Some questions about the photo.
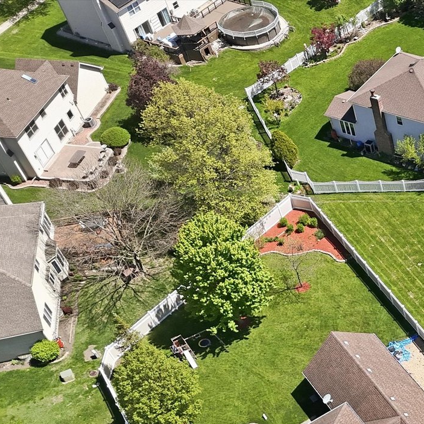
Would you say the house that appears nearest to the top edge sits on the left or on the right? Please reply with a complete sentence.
It is on the left.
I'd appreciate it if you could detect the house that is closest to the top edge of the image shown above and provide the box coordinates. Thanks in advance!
[68,0,185,50]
